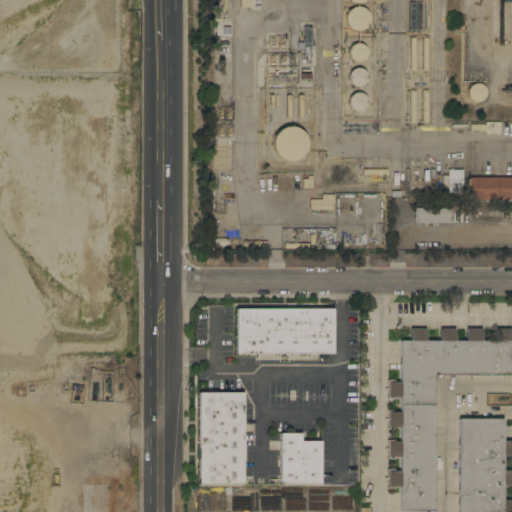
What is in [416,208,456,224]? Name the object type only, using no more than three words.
building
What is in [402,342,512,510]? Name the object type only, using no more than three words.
warehouse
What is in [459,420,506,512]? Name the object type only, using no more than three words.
building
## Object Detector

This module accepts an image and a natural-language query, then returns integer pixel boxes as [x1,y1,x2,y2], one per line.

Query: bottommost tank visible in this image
[274,127,310,162]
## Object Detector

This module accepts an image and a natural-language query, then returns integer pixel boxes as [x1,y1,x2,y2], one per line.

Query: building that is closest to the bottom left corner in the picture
[199,393,246,484]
